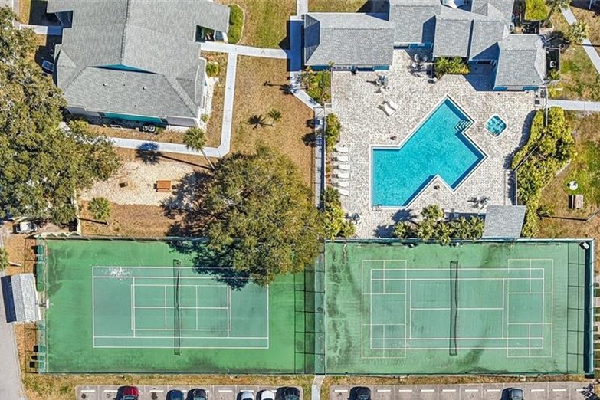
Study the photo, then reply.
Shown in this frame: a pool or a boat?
pool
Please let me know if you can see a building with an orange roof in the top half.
No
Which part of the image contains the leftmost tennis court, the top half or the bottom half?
bottom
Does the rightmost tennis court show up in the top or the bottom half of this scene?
bottom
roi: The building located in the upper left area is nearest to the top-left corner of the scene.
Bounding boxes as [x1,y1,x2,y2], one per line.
[49,0,231,129]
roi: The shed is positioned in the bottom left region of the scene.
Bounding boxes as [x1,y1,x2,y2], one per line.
[11,273,44,322]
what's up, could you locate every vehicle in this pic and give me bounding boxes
[353,387,370,400]
[190,389,206,400]
[260,389,274,400]
[170,390,184,400]
[123,387,139,400]
[241,390,255,400]
[284,387,298,400]
[507,387,525,400]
